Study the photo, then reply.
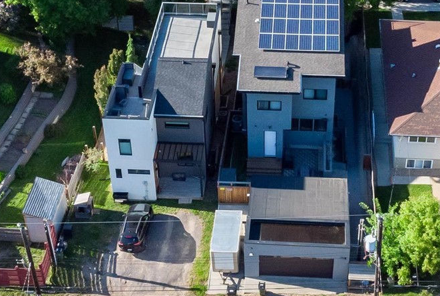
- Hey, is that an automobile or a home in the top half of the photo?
home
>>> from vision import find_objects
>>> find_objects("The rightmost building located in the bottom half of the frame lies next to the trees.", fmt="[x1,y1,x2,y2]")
[244,177,351,283]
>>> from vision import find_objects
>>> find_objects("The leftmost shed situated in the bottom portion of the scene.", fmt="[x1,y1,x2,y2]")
[23,177,68,240]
